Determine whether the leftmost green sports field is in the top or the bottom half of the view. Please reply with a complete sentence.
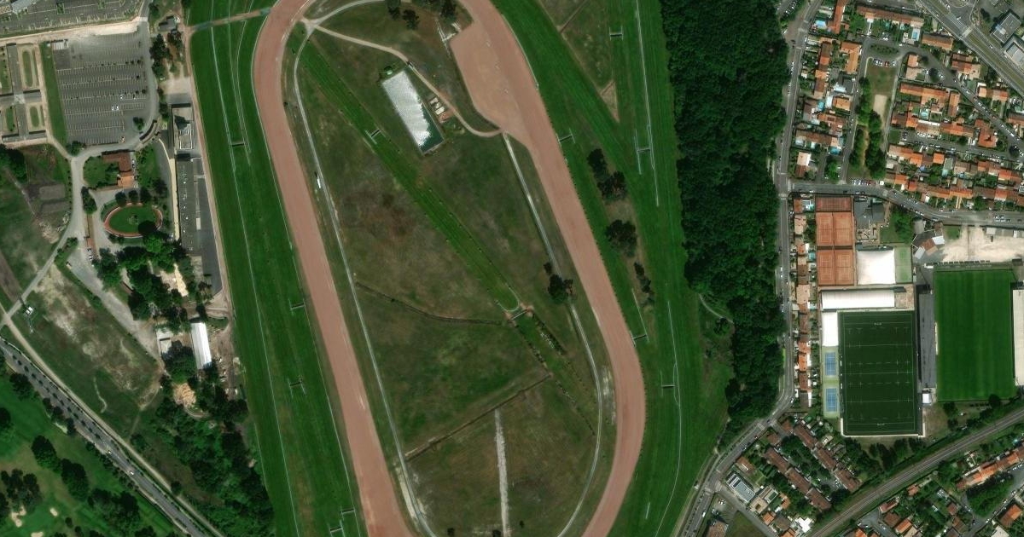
Seen from above, the leftmost green sports field lies in the bottom half of the view.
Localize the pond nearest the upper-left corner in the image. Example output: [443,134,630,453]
[381,71,445,155]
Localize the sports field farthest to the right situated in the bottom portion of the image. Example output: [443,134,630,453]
[935,269,1016,403]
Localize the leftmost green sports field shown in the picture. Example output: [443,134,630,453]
[837,309,926,438]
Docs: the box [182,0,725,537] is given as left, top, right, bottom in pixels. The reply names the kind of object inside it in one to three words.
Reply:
race track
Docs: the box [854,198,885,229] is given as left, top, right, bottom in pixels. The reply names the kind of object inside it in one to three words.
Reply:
building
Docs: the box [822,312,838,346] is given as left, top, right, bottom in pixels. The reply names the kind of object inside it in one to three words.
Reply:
building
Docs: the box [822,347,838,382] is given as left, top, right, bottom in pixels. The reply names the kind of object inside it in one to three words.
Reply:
tennis court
